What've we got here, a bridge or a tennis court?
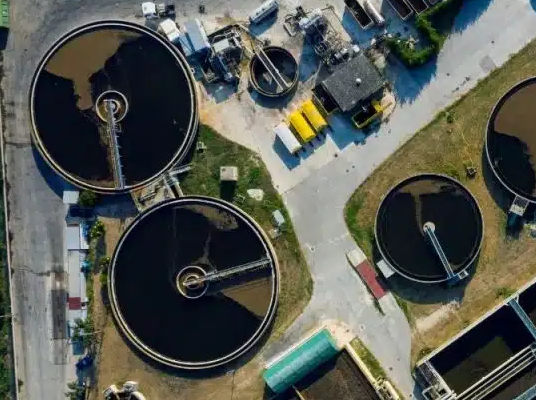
bridge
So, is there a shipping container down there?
Yes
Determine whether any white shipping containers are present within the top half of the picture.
Yes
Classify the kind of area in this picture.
industrial area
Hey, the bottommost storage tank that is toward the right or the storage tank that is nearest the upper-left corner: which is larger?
the storage tank that is nearest the upper-left corner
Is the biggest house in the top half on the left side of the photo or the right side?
right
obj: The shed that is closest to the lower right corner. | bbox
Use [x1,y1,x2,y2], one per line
[261,321,339,392]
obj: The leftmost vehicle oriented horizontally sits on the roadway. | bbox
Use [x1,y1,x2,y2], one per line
[144,1,178,18]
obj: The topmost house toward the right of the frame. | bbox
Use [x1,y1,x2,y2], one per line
[322,54,384,113]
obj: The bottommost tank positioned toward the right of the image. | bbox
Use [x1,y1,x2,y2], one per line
[375,174,483,282]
